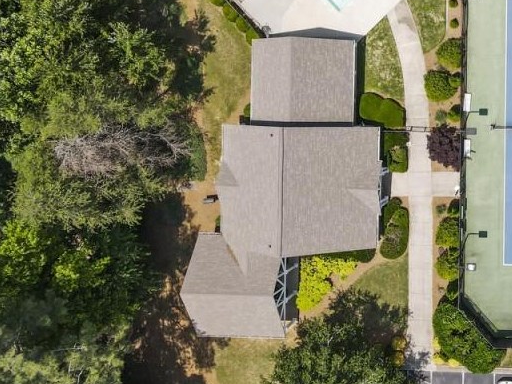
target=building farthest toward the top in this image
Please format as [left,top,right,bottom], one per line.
[251,37,358,122]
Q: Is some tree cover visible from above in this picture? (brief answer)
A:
Yes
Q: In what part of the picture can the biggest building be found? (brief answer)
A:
center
